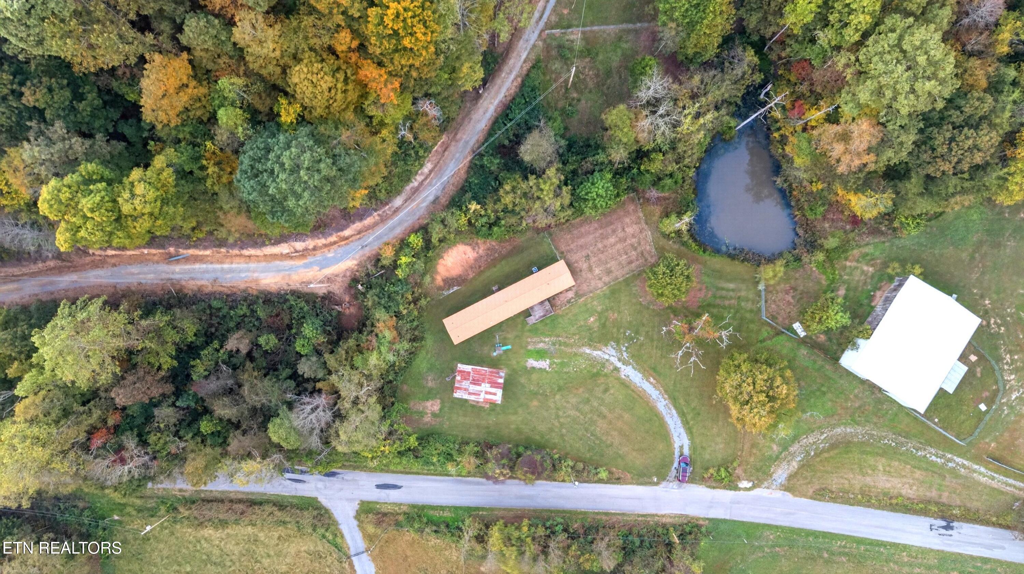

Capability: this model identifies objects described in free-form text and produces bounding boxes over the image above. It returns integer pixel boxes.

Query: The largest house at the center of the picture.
[443,260,575,344]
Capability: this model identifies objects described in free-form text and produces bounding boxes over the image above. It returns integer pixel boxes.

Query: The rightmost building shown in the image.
[834,275,982,413]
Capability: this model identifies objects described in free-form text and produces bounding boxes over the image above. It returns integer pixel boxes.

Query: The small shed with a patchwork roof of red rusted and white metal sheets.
[453,364,505,403]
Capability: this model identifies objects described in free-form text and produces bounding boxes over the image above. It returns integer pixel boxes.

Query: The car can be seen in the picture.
[677,455,691,483]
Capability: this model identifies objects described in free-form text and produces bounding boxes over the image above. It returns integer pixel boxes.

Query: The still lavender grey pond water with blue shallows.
[688,78,799,266]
